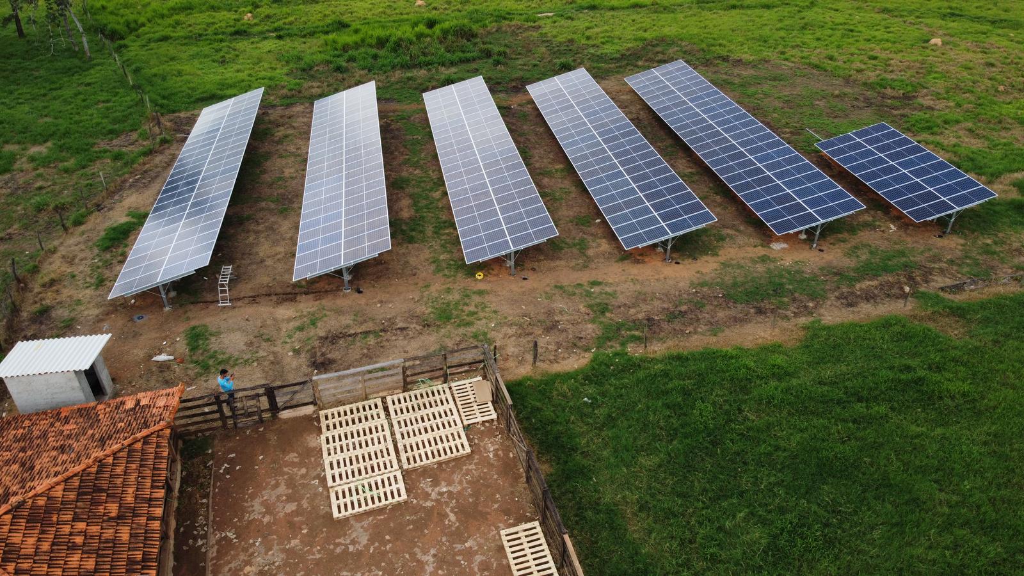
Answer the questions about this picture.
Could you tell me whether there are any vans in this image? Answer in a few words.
No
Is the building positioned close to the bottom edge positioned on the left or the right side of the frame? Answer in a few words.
left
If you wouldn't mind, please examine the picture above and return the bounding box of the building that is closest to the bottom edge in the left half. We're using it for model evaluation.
[0,385,187,576]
